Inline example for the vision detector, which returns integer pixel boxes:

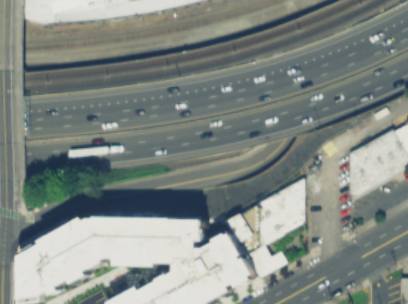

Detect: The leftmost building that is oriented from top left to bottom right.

[227,213,254,244]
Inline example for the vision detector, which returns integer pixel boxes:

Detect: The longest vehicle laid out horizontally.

[68,144,124,156]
